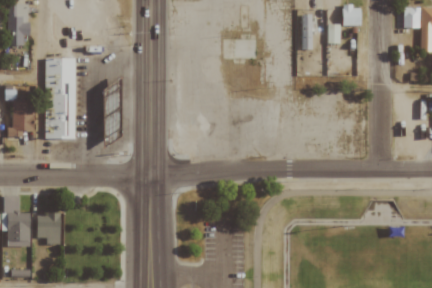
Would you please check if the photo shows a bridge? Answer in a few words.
No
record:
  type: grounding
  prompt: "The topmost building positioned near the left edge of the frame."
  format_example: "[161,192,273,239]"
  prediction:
[14,4,30,46]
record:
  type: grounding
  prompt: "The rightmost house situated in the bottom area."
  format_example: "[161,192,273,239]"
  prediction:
[36,211,60,246]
